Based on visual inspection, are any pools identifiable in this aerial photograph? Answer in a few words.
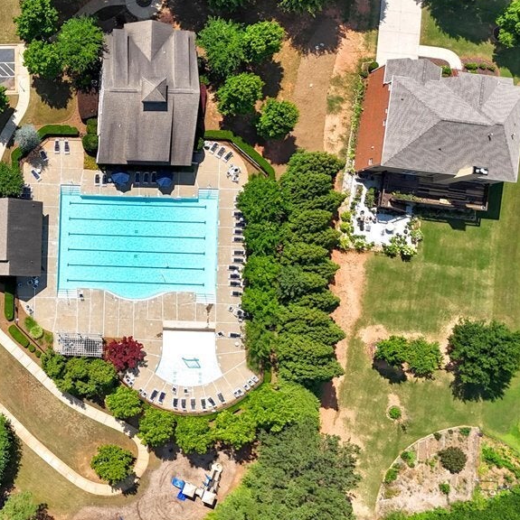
Yes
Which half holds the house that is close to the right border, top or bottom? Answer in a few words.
top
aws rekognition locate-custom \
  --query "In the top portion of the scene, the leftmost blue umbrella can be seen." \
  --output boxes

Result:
[110,167,130,187]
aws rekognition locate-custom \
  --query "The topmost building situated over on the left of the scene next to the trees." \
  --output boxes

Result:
[96,20,199,165]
